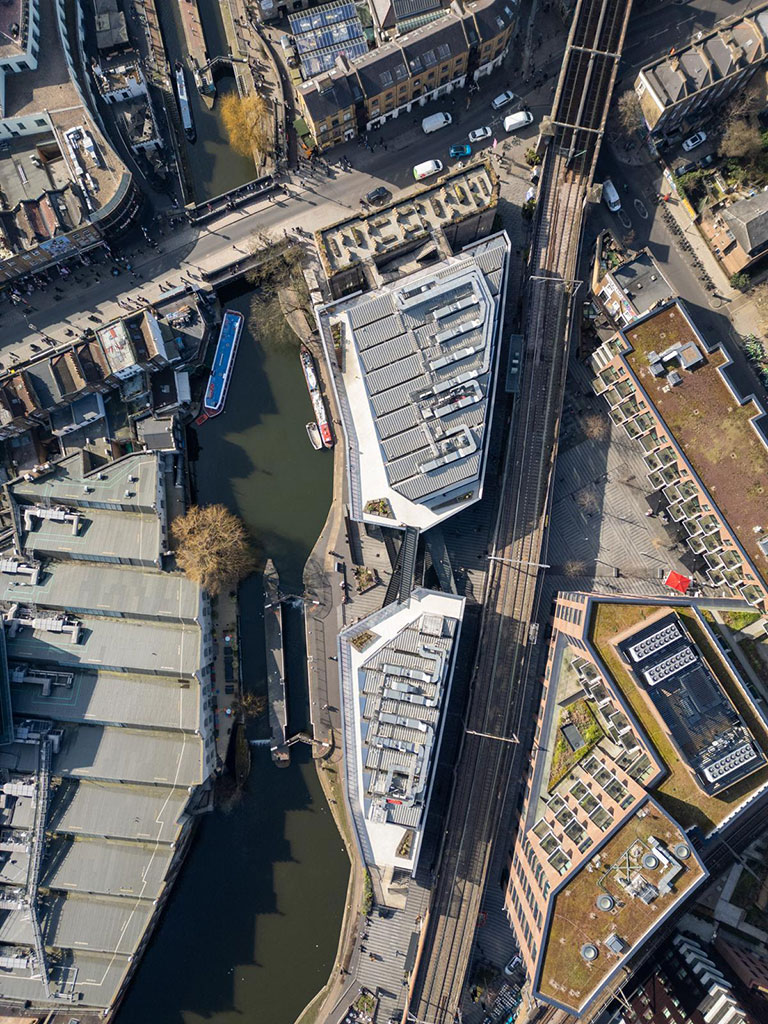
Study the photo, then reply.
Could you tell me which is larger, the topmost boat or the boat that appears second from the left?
the boat that appears second from the left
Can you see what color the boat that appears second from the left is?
blue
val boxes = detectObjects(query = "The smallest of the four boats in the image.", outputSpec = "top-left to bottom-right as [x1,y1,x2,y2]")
[307,422,321,447]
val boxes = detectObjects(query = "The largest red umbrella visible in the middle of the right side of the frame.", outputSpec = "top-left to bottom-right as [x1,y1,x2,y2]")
[665,571,690,593]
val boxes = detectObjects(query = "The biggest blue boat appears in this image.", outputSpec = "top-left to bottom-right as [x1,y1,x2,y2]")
[202,307,246,415]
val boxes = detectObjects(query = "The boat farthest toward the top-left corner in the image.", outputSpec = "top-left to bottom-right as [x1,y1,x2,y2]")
[171,59,198,143]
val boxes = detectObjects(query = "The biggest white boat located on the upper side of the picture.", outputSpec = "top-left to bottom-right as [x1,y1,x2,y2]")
[296,341,332,447]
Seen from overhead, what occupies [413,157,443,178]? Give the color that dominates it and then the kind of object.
white vehicle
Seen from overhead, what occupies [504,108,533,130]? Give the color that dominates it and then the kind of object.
white vehicle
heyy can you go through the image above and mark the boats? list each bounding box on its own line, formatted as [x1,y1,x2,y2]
[296,341,332,447]
[307,422,321,447]
[171,59,198,143]
[202,307,246,415]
